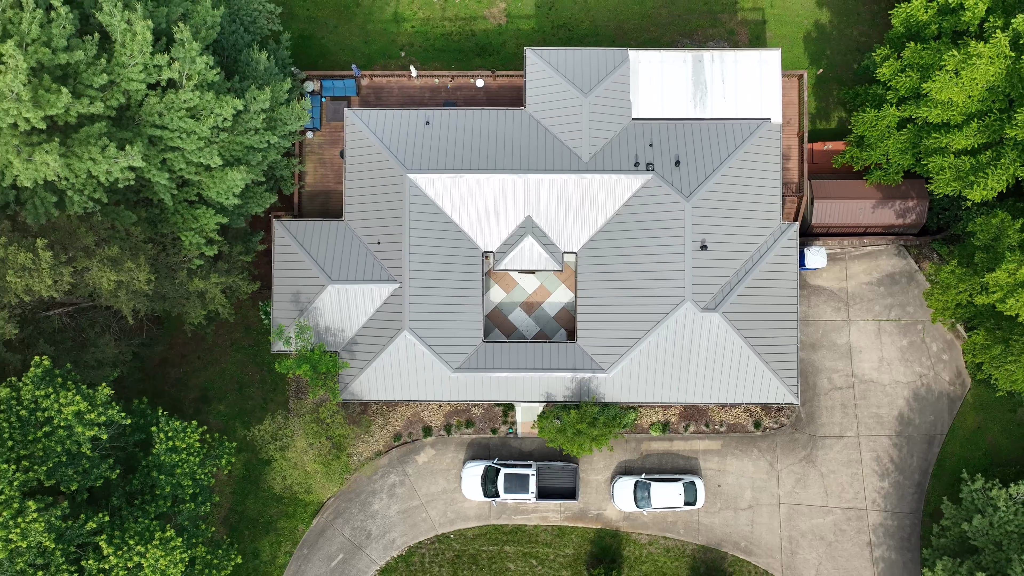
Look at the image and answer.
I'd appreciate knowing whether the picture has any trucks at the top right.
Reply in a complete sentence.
No, no truck is visible at the top right.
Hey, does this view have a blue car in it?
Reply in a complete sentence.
No, the scene contains no blue car.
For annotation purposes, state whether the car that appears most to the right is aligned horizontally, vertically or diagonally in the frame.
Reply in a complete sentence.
What the image shows is the car that appears most to the right lying horizontally.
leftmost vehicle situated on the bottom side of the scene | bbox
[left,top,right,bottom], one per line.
[460,456,582,511]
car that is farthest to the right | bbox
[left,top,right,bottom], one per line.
[610,470,706,517]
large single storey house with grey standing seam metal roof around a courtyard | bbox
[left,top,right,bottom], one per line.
[271,47,799,405]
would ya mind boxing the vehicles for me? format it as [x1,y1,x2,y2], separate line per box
[610,470,706,517]
[460,456,582,511]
